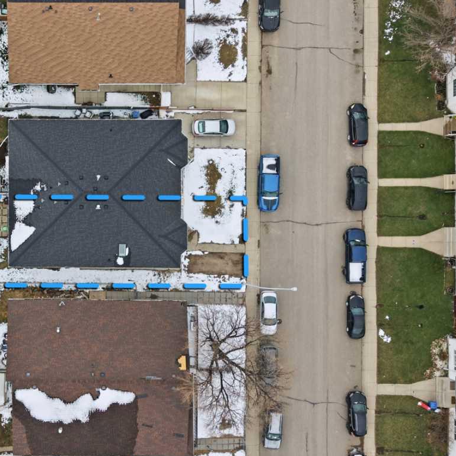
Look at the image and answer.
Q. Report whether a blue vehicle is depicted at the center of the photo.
Yes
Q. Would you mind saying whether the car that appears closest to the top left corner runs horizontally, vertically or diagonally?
horizontally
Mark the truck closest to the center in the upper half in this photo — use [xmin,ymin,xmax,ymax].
[257,153,282,212]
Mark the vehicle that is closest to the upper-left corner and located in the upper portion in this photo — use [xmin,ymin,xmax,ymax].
[192,117,236,138]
